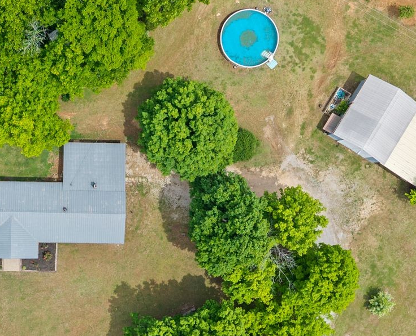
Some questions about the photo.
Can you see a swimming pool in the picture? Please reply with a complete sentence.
Yes, a swimming pool can be made out from above.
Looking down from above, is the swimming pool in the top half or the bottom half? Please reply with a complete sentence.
You can find the swimming pool in the top half.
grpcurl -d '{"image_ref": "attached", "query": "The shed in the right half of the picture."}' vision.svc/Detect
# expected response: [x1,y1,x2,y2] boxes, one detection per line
[315,74,416,185]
